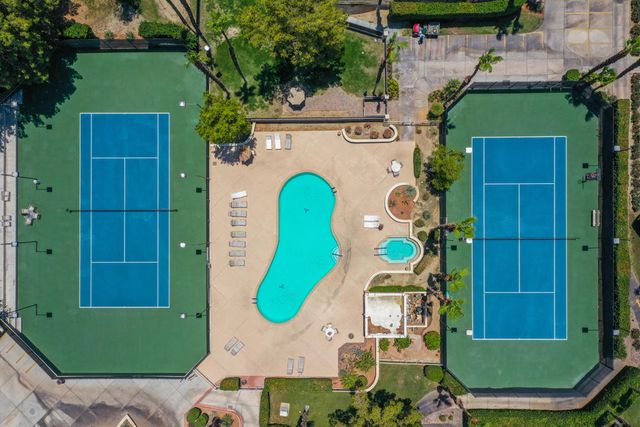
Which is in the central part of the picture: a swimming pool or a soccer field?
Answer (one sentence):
What appears in the central part of the picture is a swimming pool.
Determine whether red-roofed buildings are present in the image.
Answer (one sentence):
No, I find no red-roofed building anywhere in the image.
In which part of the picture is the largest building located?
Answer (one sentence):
The largest building sits in the bottom section of the image.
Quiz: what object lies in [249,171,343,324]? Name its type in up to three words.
swimming pool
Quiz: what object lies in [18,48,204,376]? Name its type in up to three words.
tennis court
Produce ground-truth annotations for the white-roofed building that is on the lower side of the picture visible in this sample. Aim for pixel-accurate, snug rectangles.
[362,288,408,339]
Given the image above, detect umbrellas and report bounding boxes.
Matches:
[289,88,306,105]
